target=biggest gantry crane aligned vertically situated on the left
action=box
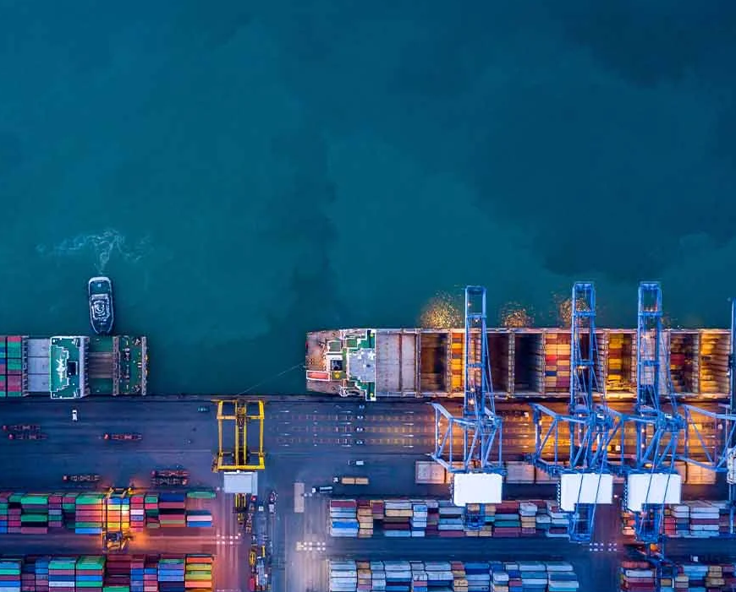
[213,401,267,520]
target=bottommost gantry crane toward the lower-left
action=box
[102,484,135,553]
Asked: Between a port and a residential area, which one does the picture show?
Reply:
port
